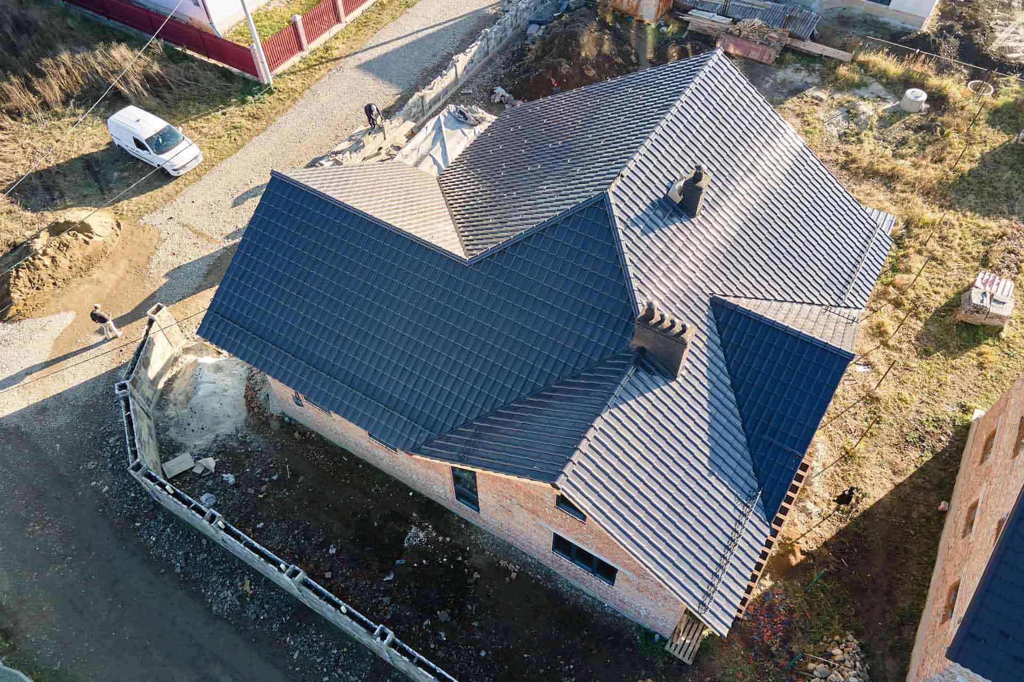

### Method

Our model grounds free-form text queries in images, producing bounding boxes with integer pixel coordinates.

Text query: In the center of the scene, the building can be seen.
[196,43,896,640]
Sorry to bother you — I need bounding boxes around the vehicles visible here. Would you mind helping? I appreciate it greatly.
[107,110,200,179]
